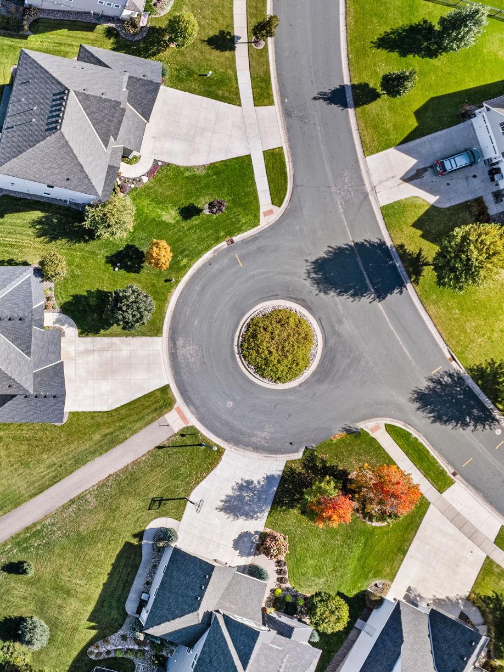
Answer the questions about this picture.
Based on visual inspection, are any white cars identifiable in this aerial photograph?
No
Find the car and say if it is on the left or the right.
right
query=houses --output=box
[0,44,161,200]
[470,96,504,198]
[0,267,66,423]
[345,598,490,672]
[141,546,322,672]
[0,0,146,25]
